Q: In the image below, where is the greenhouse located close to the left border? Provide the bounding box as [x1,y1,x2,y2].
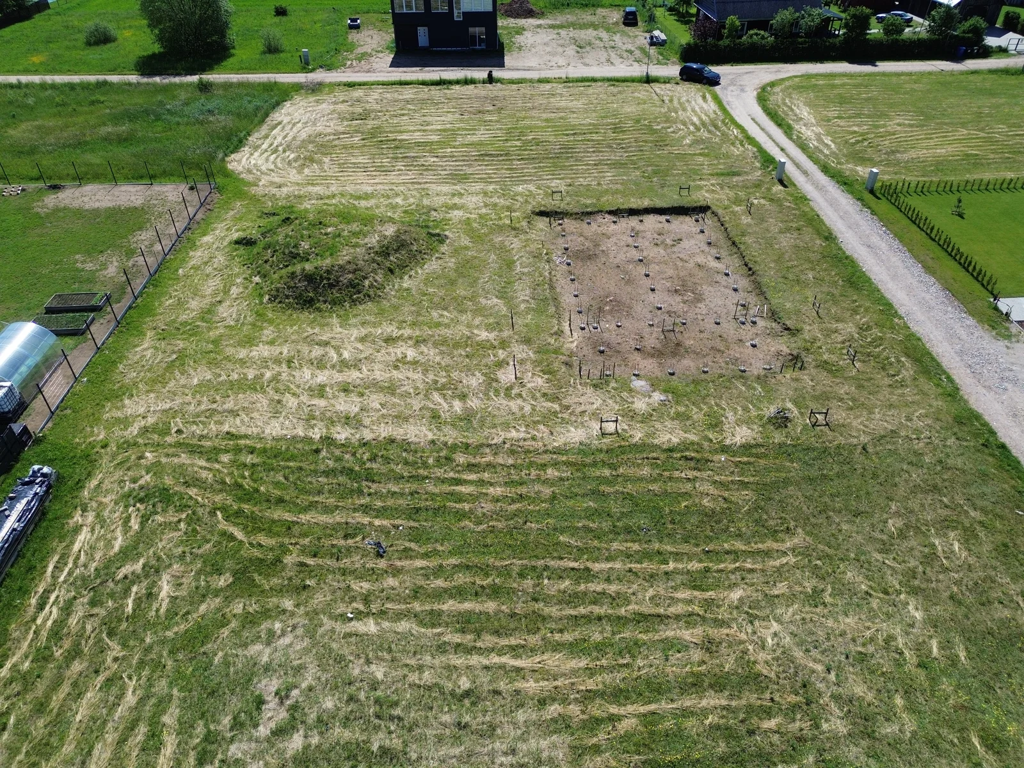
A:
[0,318,69,405]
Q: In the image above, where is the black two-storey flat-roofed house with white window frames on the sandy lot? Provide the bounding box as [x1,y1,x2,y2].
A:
[391,0,498,52]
